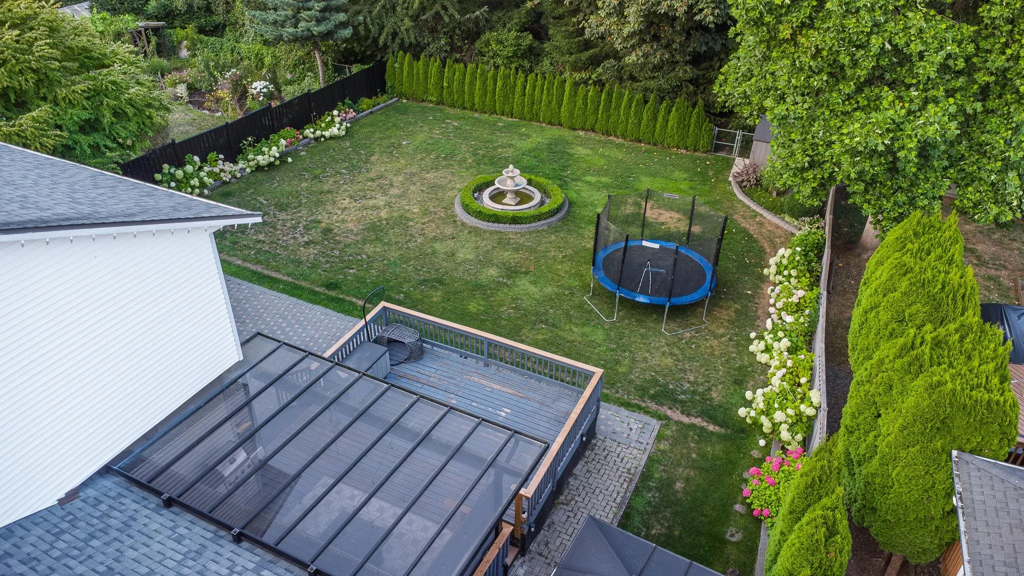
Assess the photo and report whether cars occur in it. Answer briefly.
No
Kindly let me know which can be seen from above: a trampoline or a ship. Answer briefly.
trampoline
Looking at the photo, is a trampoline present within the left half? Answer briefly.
No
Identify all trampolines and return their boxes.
[584,186,732,334]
